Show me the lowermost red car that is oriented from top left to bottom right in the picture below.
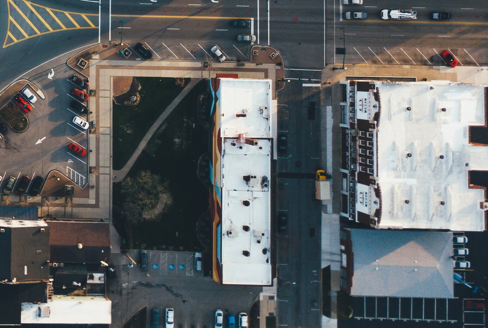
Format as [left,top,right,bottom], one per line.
[66,141,89,158]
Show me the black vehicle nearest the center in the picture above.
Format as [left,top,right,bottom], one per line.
[277,131,289,153]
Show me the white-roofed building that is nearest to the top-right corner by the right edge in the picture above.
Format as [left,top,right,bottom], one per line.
[341,75,488,232]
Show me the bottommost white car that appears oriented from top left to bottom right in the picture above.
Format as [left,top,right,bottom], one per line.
[70,114,92,132]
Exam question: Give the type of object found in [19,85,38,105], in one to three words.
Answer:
car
